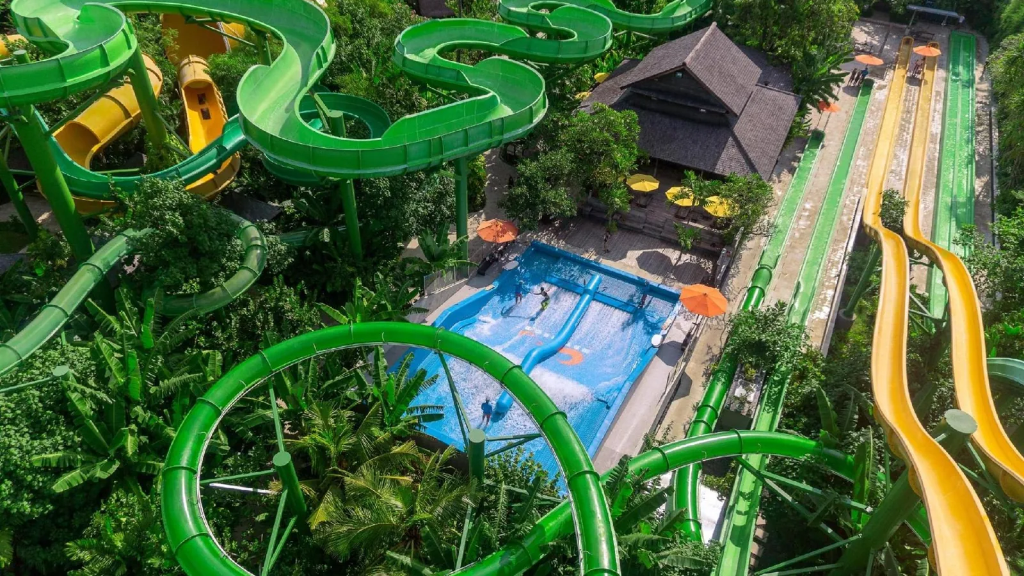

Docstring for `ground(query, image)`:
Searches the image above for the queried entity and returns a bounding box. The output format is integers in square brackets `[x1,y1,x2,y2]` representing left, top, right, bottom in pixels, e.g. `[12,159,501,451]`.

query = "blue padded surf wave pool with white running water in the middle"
[394,239,688,506]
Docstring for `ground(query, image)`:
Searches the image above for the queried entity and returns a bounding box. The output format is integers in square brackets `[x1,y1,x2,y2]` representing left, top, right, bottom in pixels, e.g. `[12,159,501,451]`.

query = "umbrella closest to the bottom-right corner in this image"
[677,288,725,328]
